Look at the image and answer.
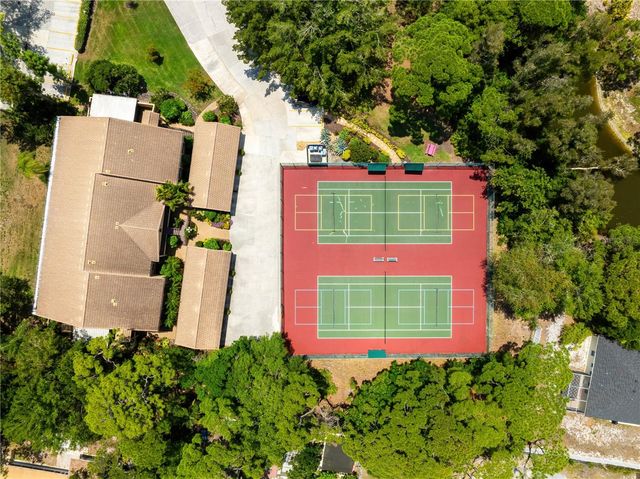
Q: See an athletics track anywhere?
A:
No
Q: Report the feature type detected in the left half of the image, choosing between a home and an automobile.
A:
home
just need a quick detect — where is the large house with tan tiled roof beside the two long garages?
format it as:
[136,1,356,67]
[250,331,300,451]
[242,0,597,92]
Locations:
[31,117,184,331]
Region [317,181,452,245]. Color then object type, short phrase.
green tennis court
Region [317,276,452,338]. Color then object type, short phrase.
green tennis court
